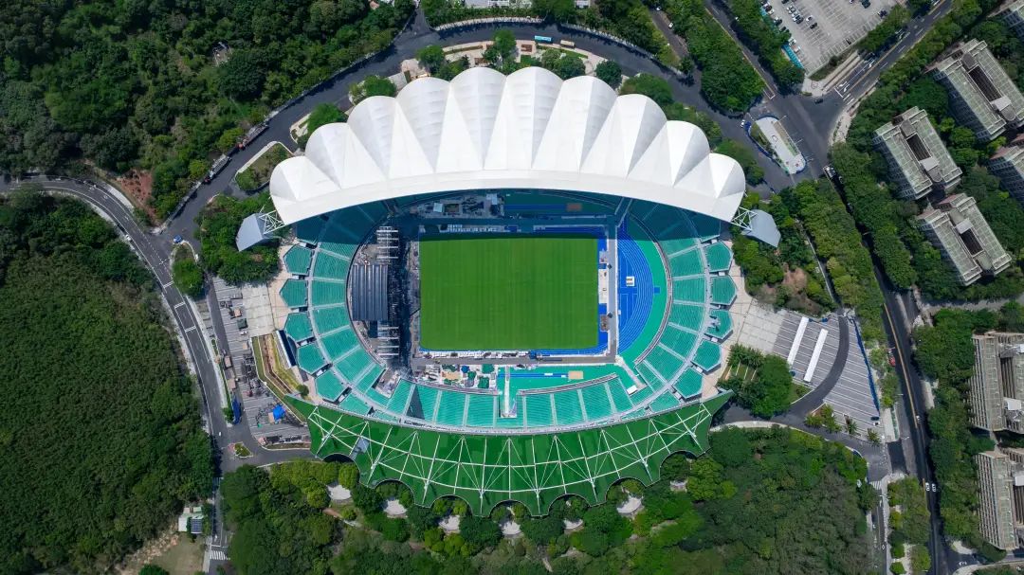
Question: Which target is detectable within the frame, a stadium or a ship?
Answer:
stadium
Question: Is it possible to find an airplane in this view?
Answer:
No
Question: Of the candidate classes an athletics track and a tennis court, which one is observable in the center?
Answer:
athletics track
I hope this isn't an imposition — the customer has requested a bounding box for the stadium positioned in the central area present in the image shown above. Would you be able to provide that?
[236,67,781,516]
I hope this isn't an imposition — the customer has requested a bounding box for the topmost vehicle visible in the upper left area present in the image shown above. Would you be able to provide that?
[240,123,271,145]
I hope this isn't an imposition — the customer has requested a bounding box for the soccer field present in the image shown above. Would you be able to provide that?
[420,234,598,352]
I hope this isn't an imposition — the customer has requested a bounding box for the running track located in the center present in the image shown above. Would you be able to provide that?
[372,225,659,358]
